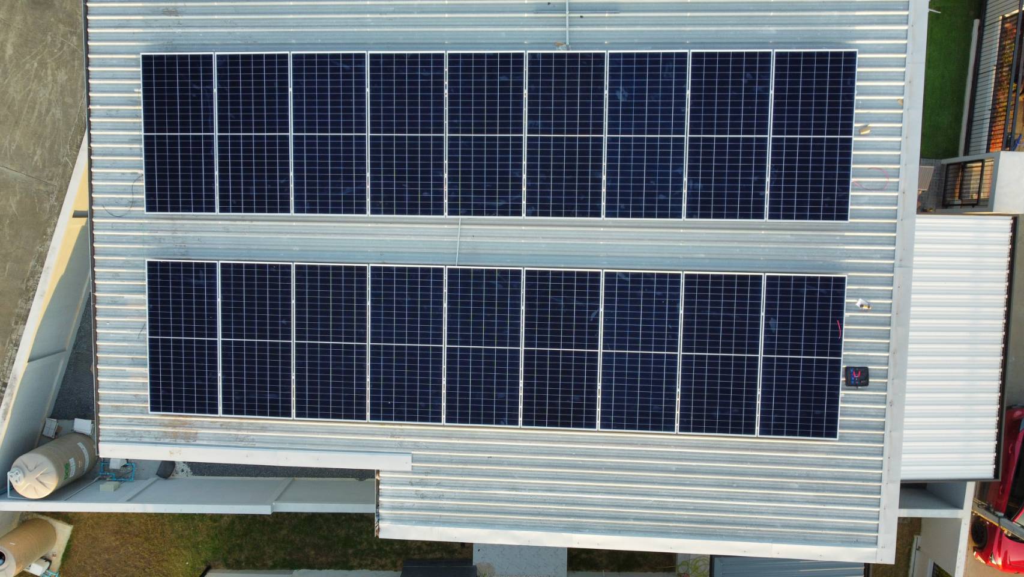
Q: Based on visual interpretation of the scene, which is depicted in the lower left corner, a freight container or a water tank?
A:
water tank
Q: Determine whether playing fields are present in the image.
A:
No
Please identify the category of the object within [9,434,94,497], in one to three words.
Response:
water tank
